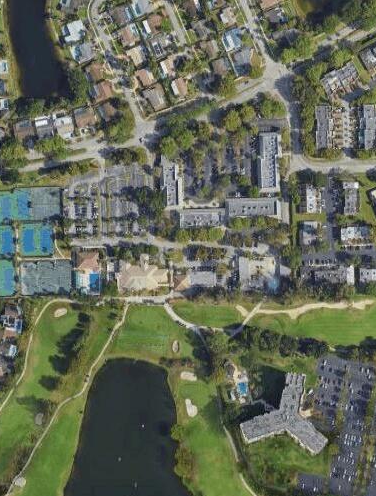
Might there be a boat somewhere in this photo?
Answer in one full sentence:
No, the photo shows no boat.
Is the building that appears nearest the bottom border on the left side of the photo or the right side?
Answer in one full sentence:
It is on the right.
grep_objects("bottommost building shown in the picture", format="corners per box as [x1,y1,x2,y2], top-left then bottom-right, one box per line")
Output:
[239,372,331,457]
